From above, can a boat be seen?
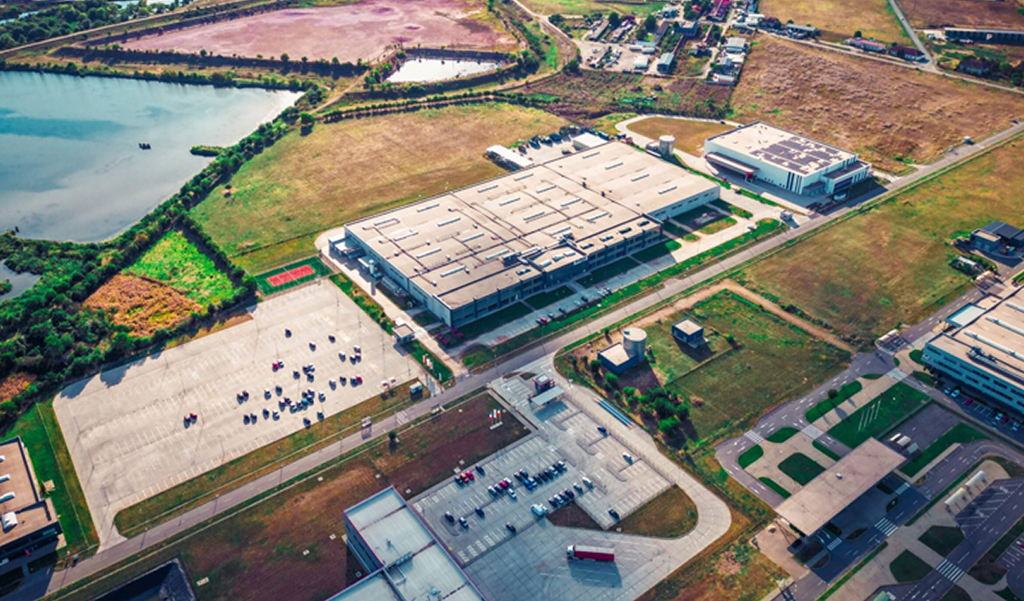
No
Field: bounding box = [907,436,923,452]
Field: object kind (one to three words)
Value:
vehicle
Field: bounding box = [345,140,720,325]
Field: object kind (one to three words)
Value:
building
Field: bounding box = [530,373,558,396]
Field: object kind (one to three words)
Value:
building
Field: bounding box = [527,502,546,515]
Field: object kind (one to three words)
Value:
vehicle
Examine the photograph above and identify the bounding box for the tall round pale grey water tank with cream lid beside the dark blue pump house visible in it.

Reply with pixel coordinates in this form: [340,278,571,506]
[622,329,647,363]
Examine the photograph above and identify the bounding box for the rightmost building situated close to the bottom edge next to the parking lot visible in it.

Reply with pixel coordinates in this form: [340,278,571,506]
[317,483,494,601]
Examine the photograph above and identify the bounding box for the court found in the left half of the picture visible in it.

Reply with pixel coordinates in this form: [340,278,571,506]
[253,253,331,295]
